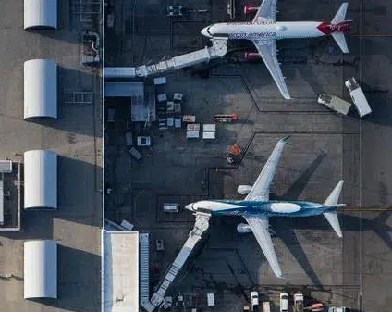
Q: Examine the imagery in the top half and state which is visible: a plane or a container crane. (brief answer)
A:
plane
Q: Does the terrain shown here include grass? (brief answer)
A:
No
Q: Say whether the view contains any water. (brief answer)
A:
No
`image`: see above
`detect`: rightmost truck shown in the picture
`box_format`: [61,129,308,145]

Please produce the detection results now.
[345,79,374,116]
